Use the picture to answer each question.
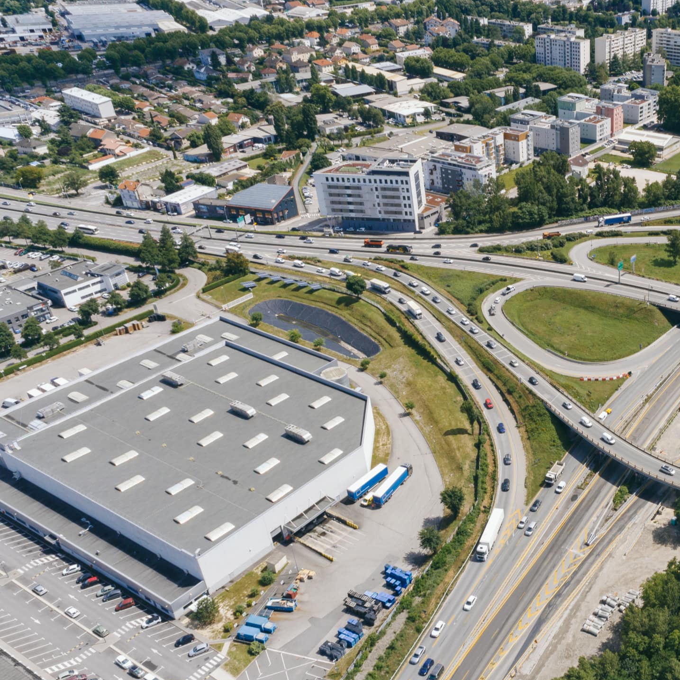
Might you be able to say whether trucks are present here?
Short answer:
Yes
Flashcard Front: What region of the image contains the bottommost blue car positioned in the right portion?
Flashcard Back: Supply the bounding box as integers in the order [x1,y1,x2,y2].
[419,659,434,675]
